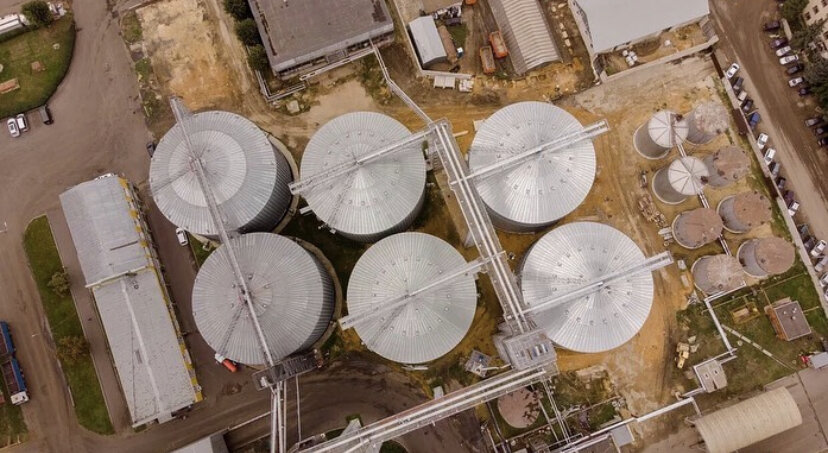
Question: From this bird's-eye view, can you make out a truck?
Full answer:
Yes, the frame does contain a truck.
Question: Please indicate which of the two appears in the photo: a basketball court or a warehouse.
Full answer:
The image shows a warehouse.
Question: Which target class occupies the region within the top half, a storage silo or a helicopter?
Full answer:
You can see a storage silo within the top half.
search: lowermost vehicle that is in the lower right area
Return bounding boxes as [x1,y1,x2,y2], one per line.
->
[675,344,695,372]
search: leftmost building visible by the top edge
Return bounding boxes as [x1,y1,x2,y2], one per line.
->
[249,0,395,83]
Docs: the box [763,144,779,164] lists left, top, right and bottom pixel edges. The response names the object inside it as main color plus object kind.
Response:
white car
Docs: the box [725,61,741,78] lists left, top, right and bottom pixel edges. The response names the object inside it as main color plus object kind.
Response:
white car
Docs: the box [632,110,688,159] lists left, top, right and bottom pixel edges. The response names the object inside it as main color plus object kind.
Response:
white silo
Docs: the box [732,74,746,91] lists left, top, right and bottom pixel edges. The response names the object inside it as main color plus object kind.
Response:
gray car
